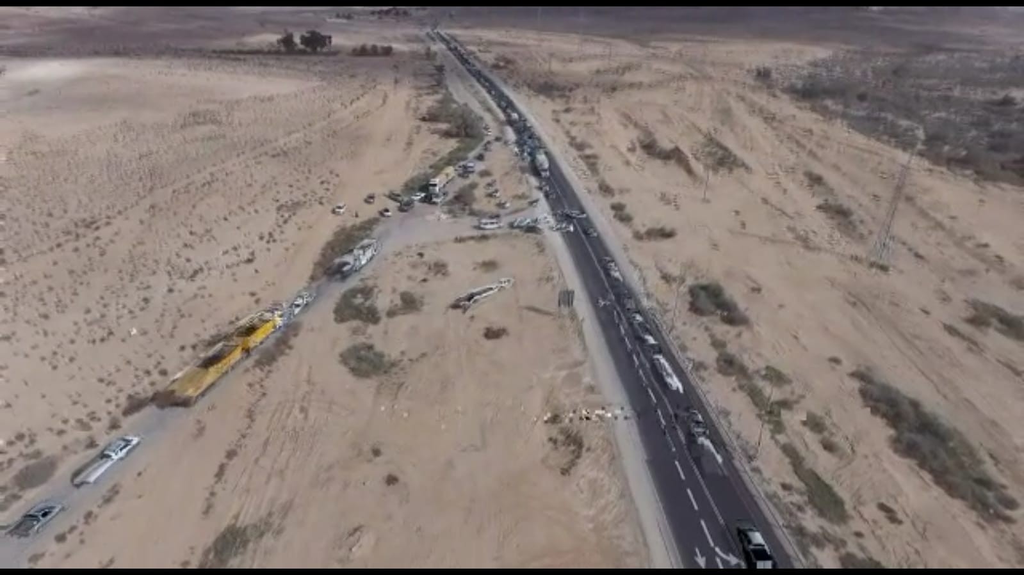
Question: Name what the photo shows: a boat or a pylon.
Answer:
pylon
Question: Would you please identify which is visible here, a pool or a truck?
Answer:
truck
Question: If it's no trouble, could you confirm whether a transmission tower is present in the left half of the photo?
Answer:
No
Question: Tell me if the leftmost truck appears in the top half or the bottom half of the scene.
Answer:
bottom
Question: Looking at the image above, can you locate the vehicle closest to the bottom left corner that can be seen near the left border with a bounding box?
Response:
[0,495,64,539]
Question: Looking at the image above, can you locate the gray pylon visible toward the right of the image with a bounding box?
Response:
[866,130,931,267]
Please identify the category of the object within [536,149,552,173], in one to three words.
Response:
vehicle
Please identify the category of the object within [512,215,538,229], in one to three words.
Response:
vehicle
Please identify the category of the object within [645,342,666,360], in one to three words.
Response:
car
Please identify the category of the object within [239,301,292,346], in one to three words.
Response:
truck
